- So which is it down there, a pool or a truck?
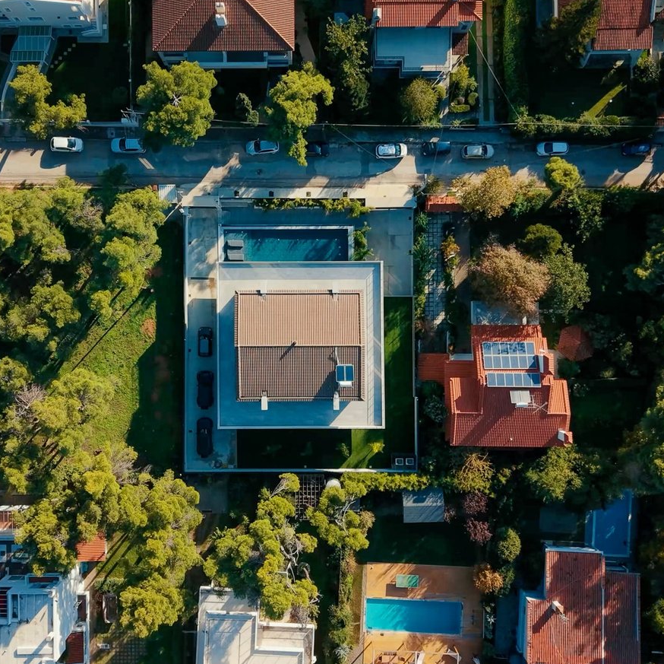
pool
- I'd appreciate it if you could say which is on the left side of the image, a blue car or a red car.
blue car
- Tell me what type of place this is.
residential area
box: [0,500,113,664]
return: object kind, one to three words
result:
house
